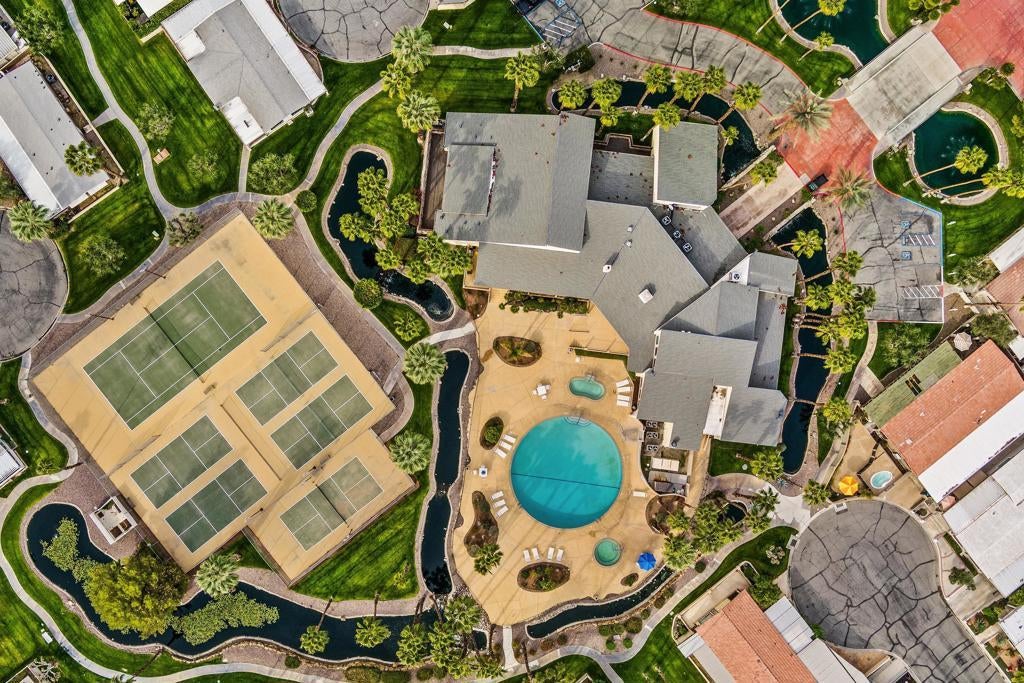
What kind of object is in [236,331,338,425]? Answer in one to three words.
sports court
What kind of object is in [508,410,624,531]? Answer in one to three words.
swimming pool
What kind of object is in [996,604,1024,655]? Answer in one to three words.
house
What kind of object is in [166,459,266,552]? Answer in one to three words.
sports court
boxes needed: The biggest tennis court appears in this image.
[84,261,267,430]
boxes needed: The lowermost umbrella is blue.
[637,550,655,569]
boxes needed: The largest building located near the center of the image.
[435,112,797,450]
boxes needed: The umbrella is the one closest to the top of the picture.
[948,333,967,349]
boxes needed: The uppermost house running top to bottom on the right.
[979,228,1024,334]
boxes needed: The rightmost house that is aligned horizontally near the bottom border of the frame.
[677,589,870,683]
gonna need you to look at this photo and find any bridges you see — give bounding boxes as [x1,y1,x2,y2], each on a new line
[836,17,984,154]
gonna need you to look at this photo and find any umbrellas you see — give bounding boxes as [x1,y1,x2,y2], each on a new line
[948,333,967,349]
[836,475,855,494]
[637,550,655,569]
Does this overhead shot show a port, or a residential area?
residential area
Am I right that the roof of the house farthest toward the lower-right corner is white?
Yes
